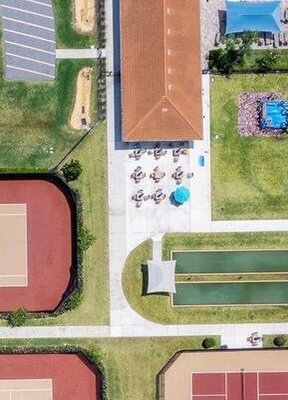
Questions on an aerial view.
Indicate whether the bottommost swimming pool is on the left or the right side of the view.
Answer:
right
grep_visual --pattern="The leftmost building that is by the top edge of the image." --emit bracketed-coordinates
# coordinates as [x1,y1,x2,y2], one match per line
[120,0,203,145]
